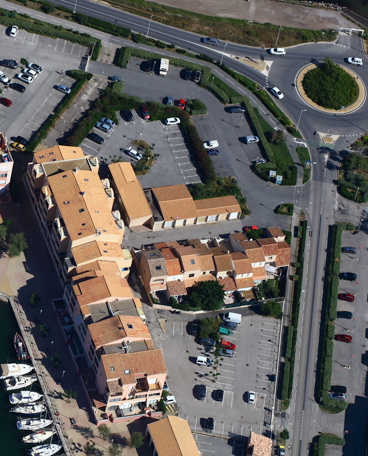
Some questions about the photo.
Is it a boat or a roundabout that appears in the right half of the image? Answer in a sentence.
You can see a roundabout in the right half of the image.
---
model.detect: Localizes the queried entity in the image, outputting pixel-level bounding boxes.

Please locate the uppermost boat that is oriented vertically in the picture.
[13,332,27,361]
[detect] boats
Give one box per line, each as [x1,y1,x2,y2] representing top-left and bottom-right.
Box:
[27,426,62,456]
[20,407,57,445]
[1,375,37,391]
[9,383,46,418]
[0,361,34,379]
[15,393,53,431]
[7,392,43,405]
[13,332,27,361]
